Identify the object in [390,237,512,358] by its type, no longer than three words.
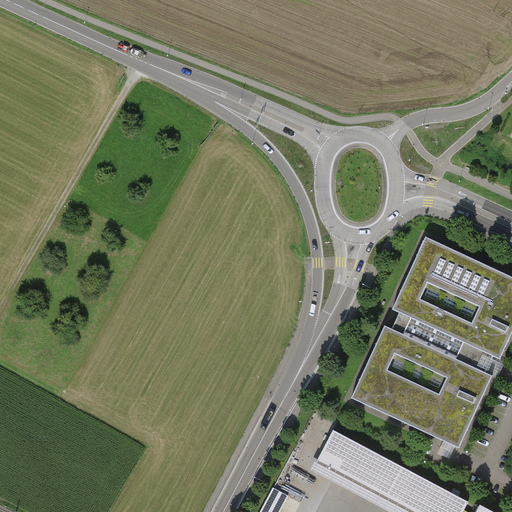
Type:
building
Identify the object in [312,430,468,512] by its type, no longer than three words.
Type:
building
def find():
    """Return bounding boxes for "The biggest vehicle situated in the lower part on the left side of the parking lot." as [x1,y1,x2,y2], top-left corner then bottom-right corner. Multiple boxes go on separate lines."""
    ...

[261,402,277,430]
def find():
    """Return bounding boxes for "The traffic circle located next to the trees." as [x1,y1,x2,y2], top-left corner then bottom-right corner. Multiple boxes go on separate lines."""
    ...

[314,126,406,245]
